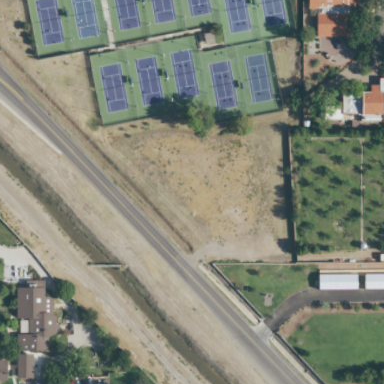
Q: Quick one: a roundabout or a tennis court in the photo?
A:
tennis court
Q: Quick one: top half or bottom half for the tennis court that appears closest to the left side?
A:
top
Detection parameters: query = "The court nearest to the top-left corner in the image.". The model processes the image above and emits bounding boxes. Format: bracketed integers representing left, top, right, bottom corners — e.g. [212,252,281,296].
[27,0,74,59]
